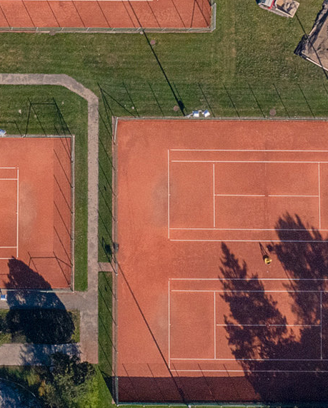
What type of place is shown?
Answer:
sports ground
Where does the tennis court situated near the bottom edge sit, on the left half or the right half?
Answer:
right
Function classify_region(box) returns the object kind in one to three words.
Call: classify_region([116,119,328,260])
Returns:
tennis court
